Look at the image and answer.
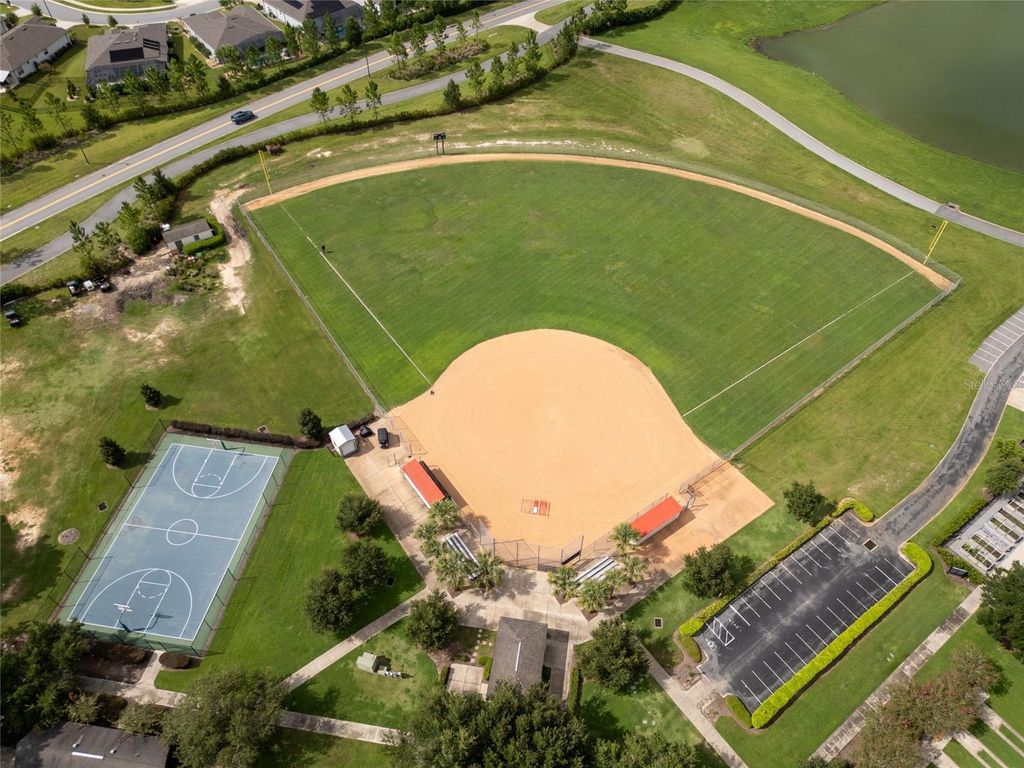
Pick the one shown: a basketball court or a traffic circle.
basketball court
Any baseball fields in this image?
Yes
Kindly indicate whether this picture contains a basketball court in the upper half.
No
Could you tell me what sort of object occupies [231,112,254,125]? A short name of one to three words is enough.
vehicle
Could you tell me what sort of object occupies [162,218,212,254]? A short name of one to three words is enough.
shed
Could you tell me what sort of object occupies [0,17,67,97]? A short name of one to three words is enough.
house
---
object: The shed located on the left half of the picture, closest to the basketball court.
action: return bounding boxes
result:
[329,425,357,457]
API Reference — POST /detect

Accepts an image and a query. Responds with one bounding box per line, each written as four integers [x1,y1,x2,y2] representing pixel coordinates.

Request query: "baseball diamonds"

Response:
[242,154,957,583]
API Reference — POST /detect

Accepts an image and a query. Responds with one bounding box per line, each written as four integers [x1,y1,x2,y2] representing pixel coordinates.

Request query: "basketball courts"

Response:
[43,432,295,658]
